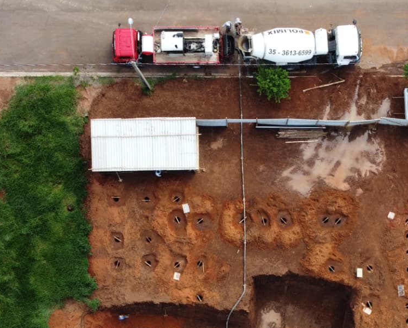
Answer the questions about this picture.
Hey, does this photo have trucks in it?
Yes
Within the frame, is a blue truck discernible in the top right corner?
No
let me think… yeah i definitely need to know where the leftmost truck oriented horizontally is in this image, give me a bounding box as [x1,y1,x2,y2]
[110,20,236,69]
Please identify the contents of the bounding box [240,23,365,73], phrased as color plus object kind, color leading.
white truck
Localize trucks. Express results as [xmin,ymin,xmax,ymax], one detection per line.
[240,23,365,73]
[110,20,236,69]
